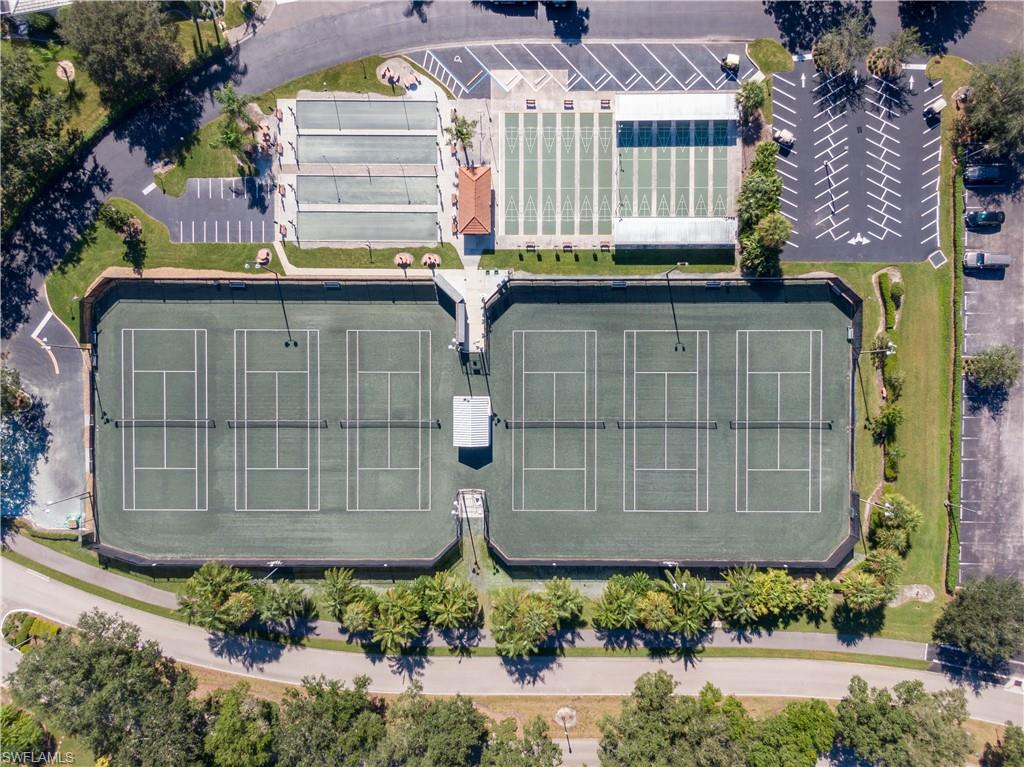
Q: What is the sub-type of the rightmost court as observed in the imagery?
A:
tennis court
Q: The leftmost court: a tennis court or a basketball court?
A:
tennis court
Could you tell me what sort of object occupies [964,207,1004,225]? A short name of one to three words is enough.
car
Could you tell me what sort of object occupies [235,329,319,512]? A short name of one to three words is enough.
tennis court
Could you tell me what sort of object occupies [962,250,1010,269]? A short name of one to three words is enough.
vehicle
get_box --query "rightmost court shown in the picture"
[736,329,821,512]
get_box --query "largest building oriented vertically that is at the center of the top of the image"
[458,166,492,234]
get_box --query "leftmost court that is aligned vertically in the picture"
[123,329,207,512]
